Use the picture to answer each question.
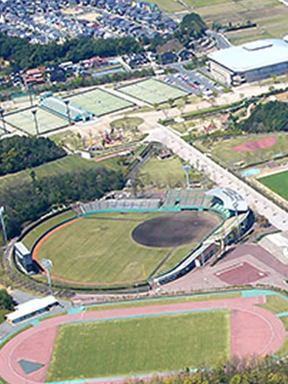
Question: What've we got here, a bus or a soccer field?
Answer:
soccer field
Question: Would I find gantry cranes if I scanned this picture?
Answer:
No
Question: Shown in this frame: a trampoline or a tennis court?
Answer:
tennis court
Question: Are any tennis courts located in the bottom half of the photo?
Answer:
No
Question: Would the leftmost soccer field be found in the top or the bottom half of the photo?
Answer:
bottom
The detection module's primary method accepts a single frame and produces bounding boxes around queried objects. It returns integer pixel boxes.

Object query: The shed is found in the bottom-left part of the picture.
[5,295,58,328]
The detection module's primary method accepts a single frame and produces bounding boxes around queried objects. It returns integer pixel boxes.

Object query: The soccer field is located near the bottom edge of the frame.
[46,308,232,381]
